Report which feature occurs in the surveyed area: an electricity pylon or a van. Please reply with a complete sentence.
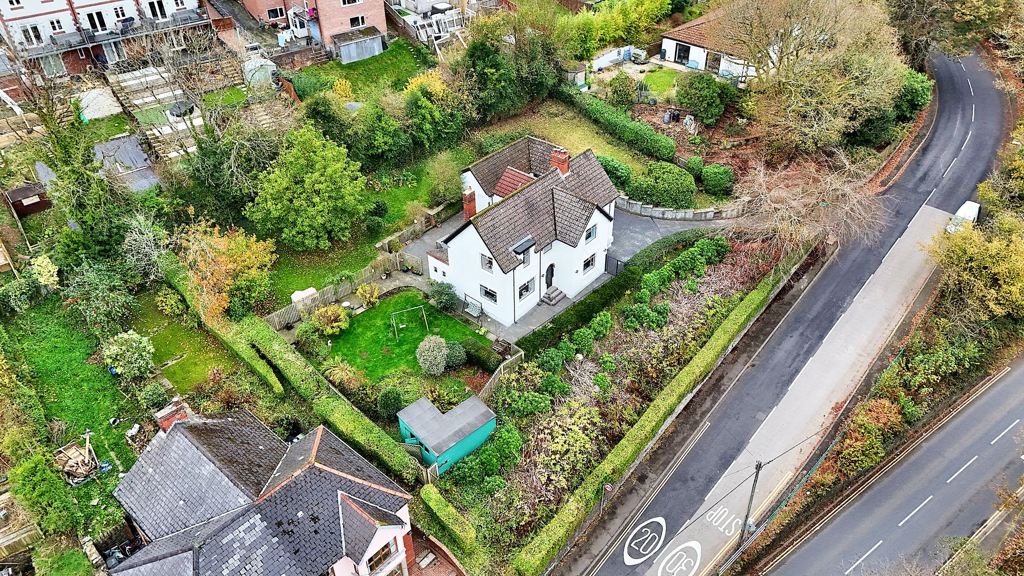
It is a van that can be seen here.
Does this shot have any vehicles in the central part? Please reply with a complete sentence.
No, I can find no vehicle in the central part.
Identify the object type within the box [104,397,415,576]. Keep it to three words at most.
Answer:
house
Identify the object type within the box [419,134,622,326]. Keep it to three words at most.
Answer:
house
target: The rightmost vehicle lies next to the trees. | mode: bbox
[949,194,986,236]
